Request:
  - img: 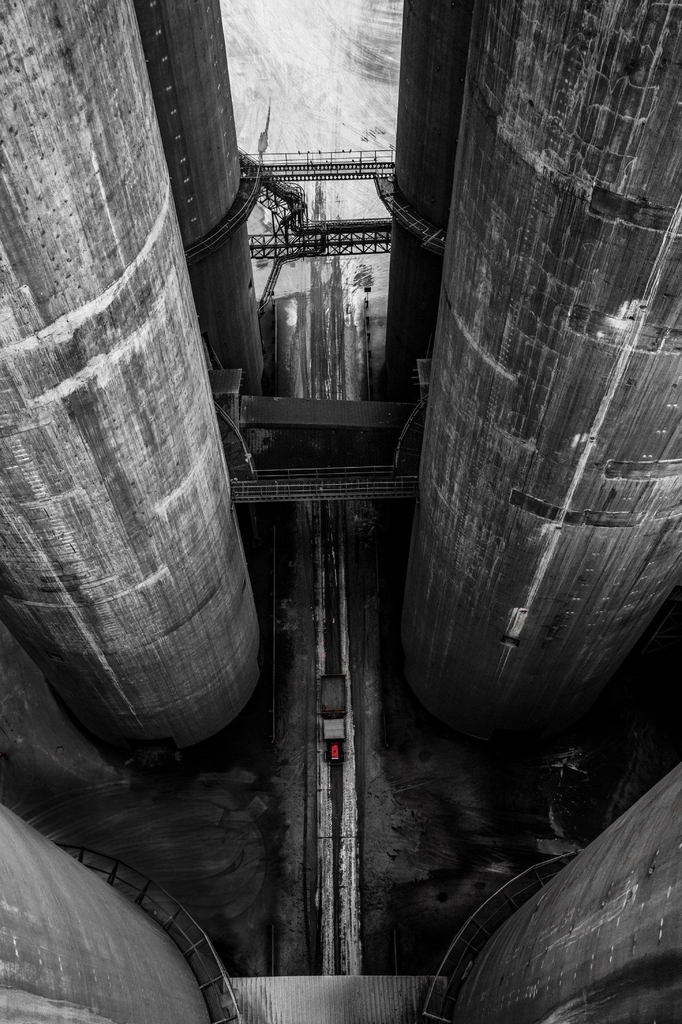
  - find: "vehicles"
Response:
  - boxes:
[320,675,350,767]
